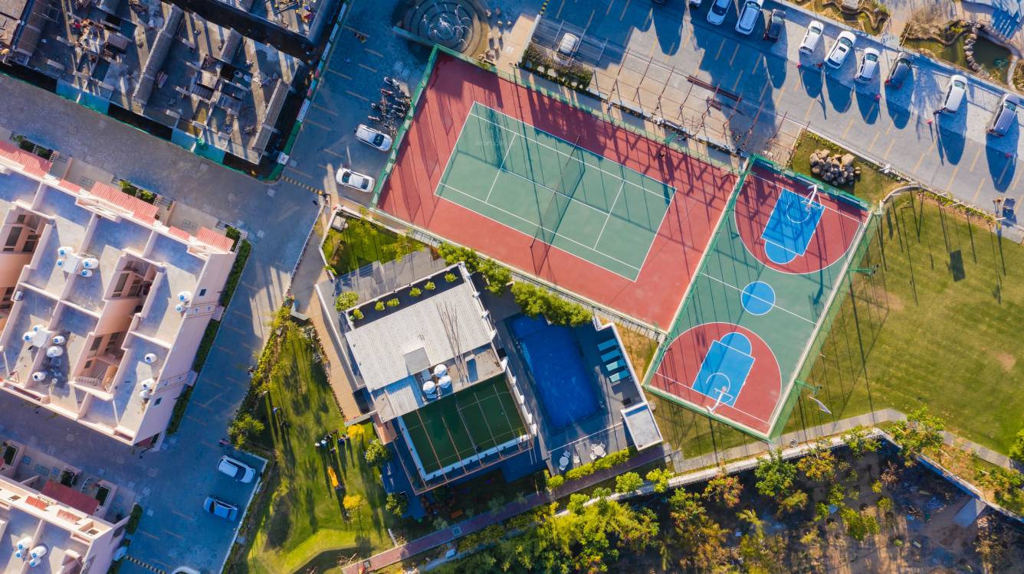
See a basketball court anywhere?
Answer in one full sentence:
Yes, the image includes a basketball court.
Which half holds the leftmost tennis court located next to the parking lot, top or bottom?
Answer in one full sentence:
It is in the top half that the leftmost tennis court located next to the parking lot appears.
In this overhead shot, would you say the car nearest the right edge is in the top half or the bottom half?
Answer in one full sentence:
The car nearest the right edge sits in the top half of the picture.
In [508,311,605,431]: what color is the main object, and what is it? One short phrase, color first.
blue swimming pool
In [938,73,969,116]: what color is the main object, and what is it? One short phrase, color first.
white car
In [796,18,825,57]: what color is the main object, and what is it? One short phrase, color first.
white car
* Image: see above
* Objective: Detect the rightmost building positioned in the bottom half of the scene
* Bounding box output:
[618,398,663,450]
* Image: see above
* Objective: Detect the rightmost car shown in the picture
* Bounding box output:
[985,93,1018,139]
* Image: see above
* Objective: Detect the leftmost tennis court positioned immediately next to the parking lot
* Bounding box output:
[372,52,737,334]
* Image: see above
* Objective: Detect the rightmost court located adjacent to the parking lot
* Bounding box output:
[643,156,875,442]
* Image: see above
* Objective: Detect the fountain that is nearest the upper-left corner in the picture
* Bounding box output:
[395,0,485,64]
